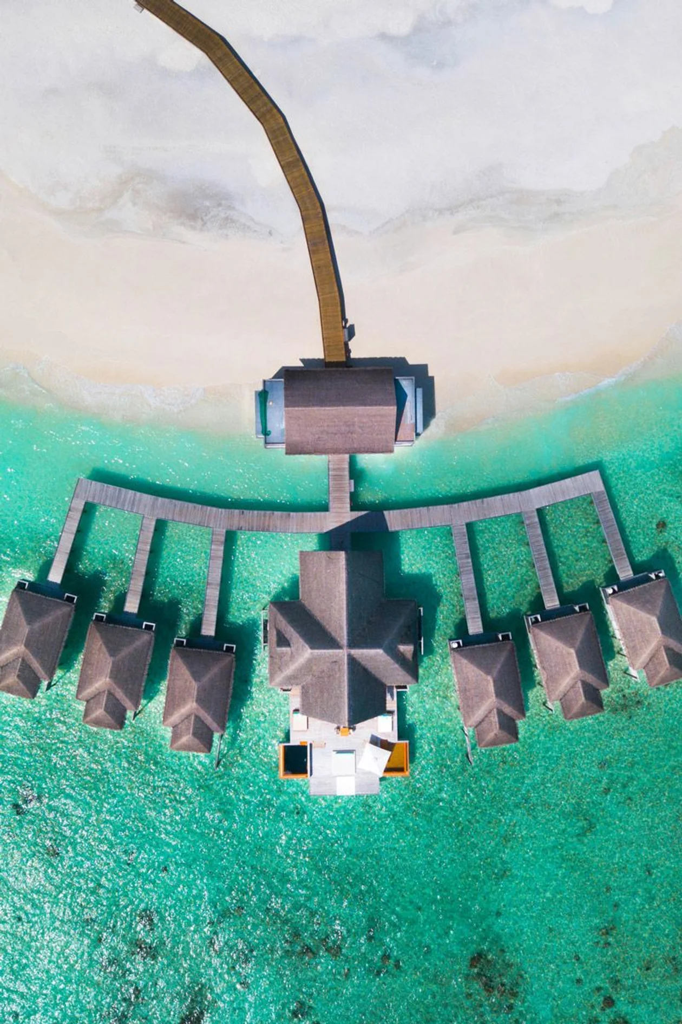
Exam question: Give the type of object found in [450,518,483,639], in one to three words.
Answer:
pier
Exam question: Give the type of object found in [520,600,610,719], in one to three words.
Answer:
house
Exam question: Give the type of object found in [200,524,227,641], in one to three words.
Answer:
pier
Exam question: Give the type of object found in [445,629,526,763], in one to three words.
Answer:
house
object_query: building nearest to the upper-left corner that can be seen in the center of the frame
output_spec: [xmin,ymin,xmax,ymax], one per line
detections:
[255,369,423,455]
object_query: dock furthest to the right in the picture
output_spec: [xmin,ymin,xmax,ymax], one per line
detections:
[588,488,633,585]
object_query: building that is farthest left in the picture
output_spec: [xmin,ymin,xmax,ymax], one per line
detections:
[0,579,80,698]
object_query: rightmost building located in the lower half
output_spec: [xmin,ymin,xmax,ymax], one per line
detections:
[596,568,682,687]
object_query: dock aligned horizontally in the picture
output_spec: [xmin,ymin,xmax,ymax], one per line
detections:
[74,470,605,533]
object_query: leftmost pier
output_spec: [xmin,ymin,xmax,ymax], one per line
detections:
[46,497,88,589]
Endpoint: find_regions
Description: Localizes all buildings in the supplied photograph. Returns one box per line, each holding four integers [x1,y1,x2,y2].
[162,636,237,769]
[520,600,610,719]
[78,612,157,729]
[262,551,422,728]
[596,568,682,687]
[255,369,423,455]
[445,629,526,763]
[0,579,80,698]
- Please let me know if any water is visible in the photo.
Yes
